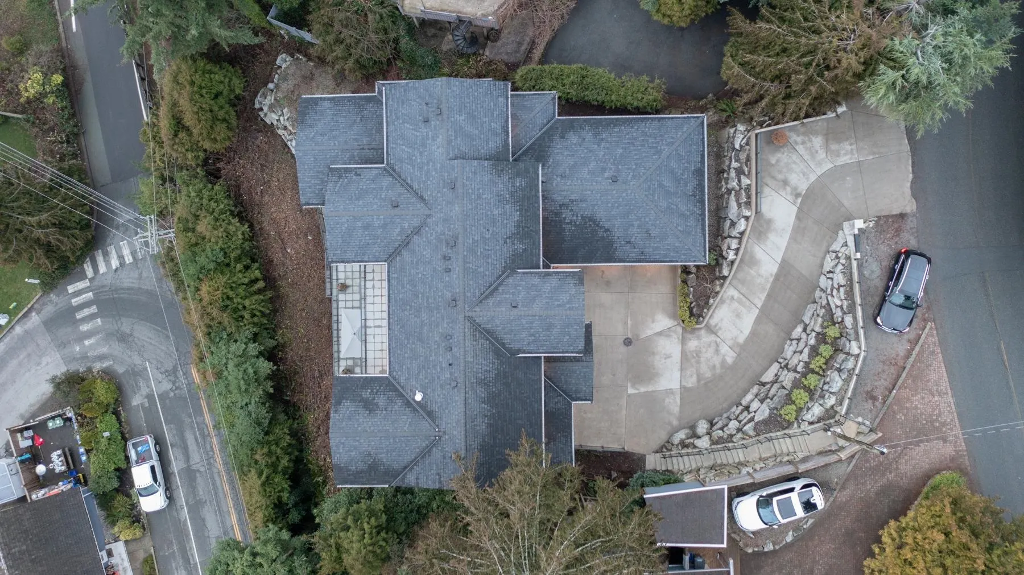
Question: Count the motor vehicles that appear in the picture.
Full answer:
I count 3 motor vehicles.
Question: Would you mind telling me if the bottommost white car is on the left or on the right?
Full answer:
It is on the right.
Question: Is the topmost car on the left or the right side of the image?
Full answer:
The topmost car appears in the right half of the scene.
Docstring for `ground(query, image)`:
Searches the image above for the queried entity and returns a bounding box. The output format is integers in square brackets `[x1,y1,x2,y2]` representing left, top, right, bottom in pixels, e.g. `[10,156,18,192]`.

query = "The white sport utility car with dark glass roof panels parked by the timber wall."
[731,475,825,531]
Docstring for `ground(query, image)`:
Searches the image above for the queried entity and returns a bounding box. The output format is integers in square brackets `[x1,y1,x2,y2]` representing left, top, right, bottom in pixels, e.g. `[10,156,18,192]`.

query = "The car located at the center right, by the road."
[872,248,934,335]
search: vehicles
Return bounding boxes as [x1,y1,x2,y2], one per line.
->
[731,475,825,531]
[123,432,172,510]
[872,248,934,335]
